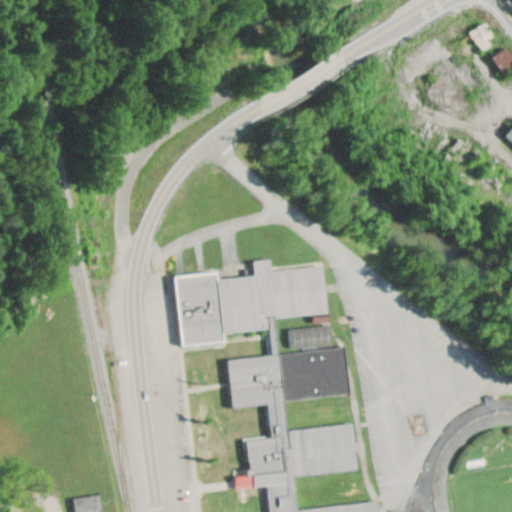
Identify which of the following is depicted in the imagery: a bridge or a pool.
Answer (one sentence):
The one in the frame is a bridge.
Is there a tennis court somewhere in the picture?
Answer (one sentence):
No, I find no tennis court anywhere in the image.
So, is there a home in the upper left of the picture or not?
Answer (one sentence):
No, no home appears in the upper left of the picture.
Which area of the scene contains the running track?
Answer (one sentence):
The running track is in the bottom right part of the image.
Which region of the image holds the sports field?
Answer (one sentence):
The sports field is in the bottom right part of the image.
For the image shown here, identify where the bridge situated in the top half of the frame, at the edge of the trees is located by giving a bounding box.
[276,50,349,104]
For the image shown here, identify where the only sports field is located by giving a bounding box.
[447,425,512,512]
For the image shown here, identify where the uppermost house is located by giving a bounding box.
[470,21,496,52]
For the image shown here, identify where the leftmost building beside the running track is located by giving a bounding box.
[174,259,378,512]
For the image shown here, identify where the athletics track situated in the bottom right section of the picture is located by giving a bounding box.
[406,398,512,512]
